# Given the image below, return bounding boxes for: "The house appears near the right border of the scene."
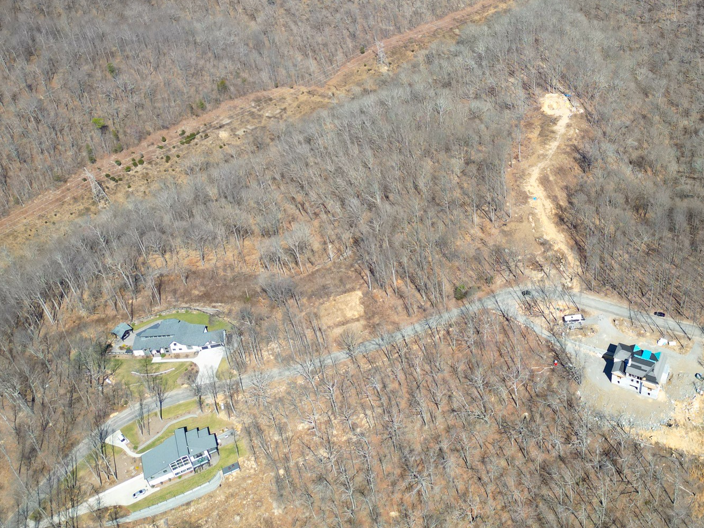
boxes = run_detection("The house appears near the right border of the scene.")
[604,340,673,402]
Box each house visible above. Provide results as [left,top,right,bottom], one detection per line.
[604,340,673,402]
[143,429,222,493]
[131,318,226,357]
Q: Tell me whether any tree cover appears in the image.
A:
Yes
